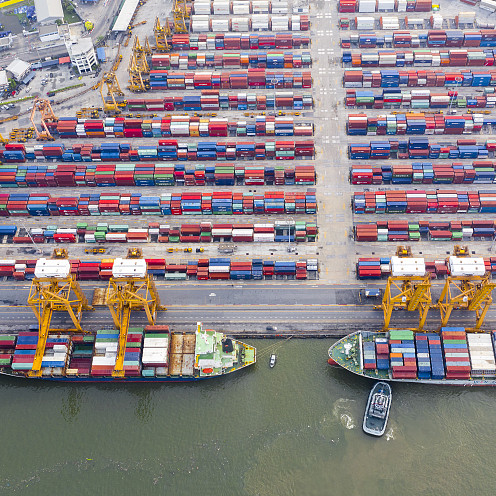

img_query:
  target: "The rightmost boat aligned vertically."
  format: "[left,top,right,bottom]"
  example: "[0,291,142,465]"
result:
[365,381,391,437]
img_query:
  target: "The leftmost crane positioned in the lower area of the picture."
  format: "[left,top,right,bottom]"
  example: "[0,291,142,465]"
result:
[26,247,103,379]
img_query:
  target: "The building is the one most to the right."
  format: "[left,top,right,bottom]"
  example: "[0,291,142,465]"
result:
[113,0,146,39]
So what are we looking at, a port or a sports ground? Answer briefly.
port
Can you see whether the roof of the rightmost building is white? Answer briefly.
Yes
